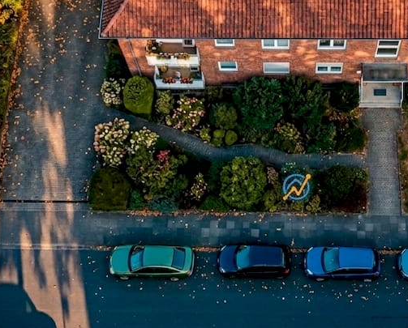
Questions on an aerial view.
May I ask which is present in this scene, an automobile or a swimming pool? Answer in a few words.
automobile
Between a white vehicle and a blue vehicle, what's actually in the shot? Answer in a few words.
blue vehicle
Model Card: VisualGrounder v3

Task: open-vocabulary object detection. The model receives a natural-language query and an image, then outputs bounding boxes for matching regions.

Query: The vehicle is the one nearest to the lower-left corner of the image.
[109,242,194,281]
